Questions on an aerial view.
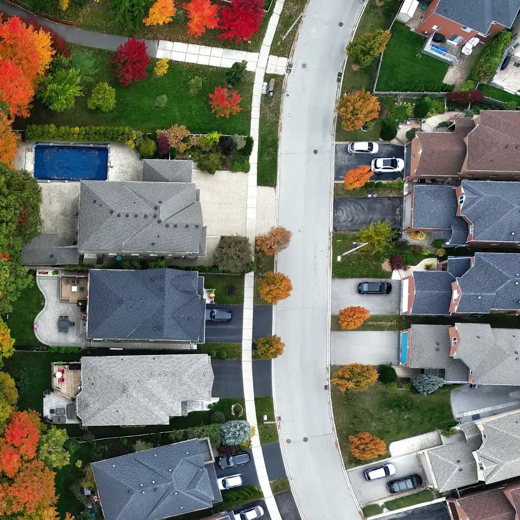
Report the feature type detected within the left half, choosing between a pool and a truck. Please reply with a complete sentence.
There is a pool within the left half.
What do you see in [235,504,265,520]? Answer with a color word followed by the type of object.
white car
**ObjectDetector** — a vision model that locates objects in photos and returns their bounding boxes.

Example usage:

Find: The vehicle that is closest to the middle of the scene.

[206,306,237,323]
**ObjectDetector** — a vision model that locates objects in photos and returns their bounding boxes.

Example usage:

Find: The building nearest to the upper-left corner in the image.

[21,159,208,265]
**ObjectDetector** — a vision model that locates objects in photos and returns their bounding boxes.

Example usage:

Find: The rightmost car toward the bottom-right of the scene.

[385,474,422,494]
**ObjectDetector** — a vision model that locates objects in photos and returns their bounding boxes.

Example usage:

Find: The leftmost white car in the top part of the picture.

[346,139,378,156]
